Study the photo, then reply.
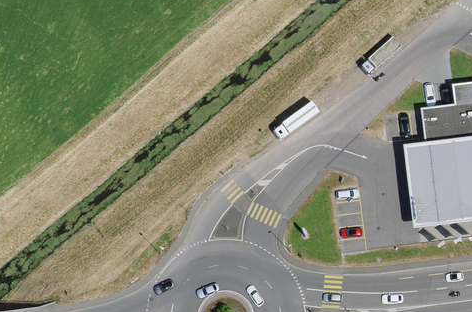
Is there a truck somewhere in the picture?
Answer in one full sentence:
Yes, the image includes a truck.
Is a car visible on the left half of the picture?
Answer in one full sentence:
Yes, looking on the left half of the picture, one can make out a car.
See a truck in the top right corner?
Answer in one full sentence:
Yes, a truck can be seen in the top right corner.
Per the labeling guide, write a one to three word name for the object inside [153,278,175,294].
car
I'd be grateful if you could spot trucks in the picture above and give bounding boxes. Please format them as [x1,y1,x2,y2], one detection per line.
[272,100,320,143]
[361,37,401,76]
